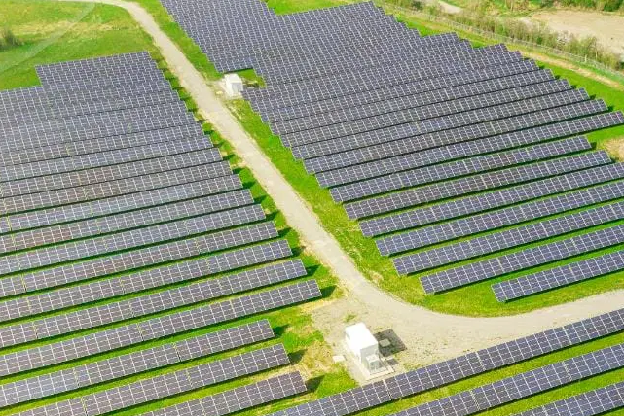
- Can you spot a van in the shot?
No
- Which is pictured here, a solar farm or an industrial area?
solar farm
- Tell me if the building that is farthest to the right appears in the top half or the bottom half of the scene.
bottom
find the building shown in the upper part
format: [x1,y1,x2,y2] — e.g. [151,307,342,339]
[224,73,245,96]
